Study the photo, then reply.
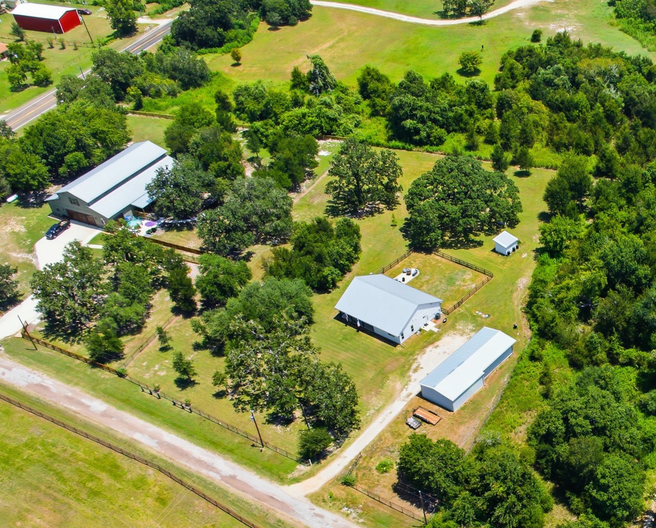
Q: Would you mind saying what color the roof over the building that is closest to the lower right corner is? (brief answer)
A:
white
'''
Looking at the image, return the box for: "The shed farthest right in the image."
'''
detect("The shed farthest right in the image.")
[493,233,518,255]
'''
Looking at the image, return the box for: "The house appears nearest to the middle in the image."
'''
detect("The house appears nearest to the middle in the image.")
[334,275,442,347]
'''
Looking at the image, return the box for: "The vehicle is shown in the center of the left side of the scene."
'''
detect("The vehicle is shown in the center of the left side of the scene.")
[44,220,70,236]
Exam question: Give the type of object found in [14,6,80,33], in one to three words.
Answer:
barn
